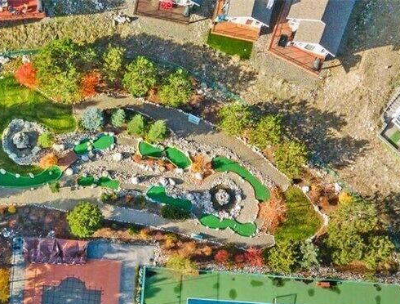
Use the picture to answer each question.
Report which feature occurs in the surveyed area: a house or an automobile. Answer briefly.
house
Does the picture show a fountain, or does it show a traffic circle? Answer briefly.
fountain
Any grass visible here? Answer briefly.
Yes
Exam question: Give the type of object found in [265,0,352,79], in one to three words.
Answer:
house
